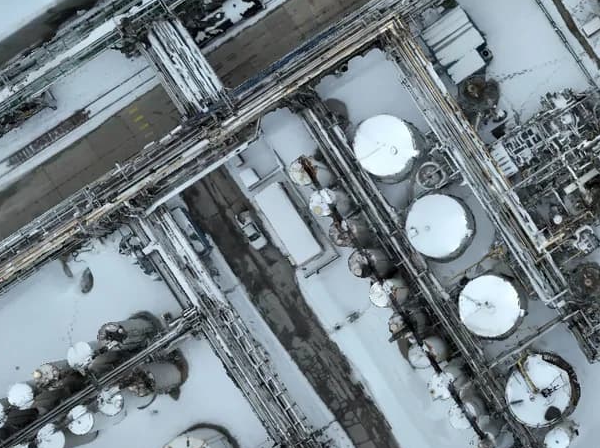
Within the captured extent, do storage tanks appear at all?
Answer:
Yes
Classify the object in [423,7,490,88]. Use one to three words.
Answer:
building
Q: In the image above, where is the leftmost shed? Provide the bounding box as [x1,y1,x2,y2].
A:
[239,166,266,188]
